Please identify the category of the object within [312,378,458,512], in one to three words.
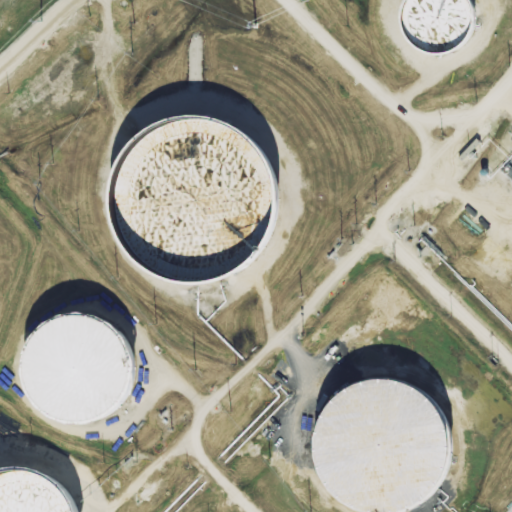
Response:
storage tank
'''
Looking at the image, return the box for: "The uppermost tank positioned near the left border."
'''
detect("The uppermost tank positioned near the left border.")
[20,312,136,426]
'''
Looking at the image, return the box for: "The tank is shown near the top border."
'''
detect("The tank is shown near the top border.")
[398,0,483,58]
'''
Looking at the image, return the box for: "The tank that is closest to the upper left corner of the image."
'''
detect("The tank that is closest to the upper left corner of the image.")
[108,115,282,288]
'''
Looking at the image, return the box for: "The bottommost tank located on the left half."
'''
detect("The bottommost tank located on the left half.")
[0,464,84,512]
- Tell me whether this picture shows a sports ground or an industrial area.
industrial area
